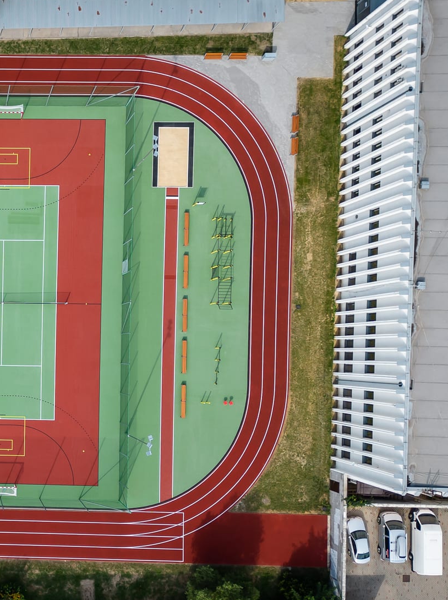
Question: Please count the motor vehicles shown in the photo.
3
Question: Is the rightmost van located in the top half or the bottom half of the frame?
bottom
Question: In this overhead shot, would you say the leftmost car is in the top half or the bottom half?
bottom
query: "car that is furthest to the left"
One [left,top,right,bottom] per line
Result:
[347,518,368,563]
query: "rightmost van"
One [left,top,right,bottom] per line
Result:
[406,510,442,576]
